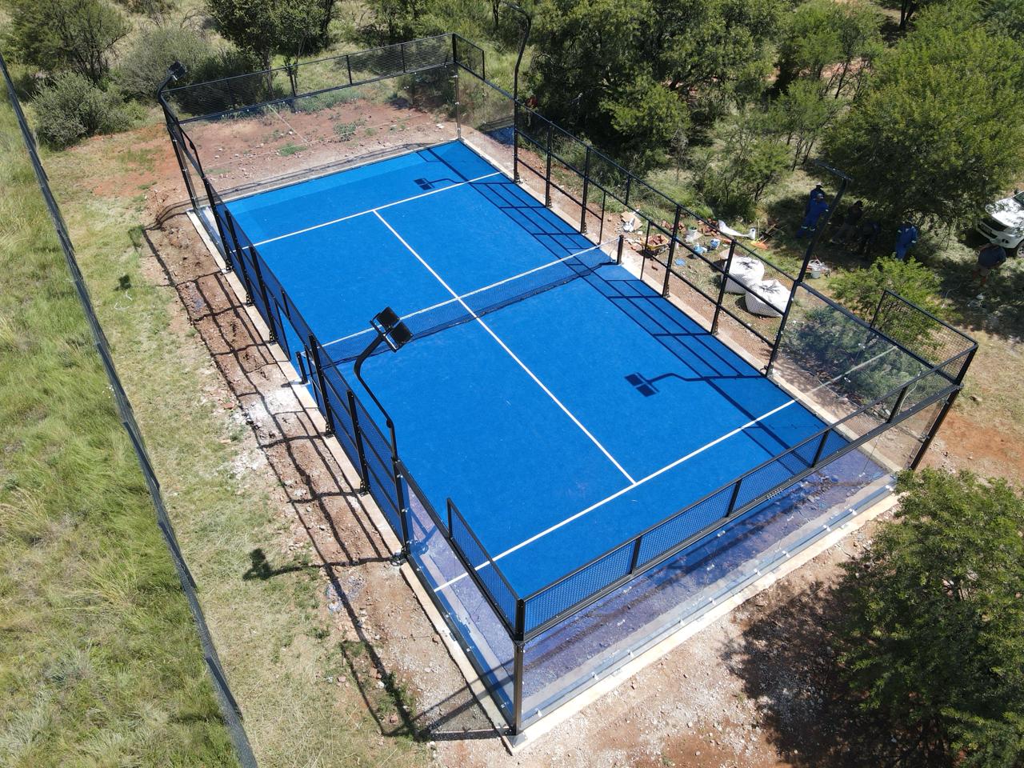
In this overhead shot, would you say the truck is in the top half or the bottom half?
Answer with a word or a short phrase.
top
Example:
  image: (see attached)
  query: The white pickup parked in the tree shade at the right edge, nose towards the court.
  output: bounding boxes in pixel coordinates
[971,189,1024,261]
